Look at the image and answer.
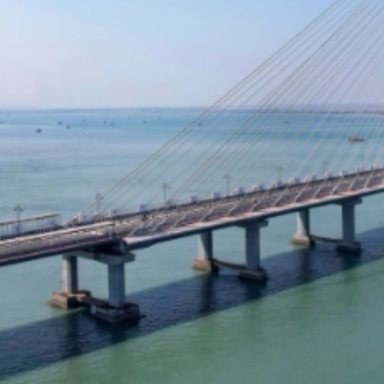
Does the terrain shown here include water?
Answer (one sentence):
Yes, there is water in the image.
